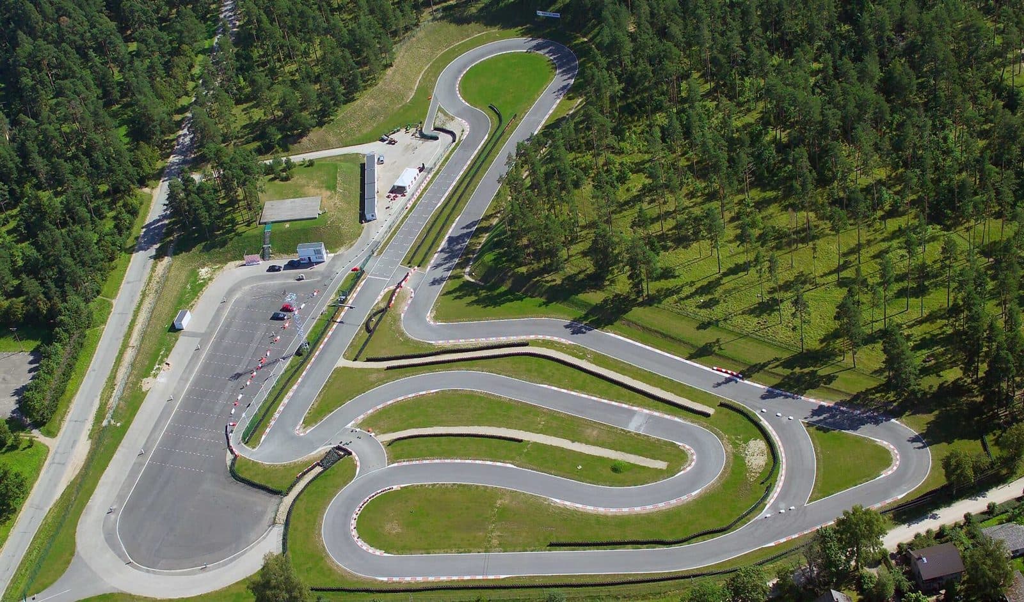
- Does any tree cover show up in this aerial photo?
Yes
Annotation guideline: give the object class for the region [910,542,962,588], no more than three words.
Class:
house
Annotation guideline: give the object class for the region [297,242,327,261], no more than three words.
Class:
building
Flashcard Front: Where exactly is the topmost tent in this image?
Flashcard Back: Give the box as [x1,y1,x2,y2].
[395,166,419,191]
